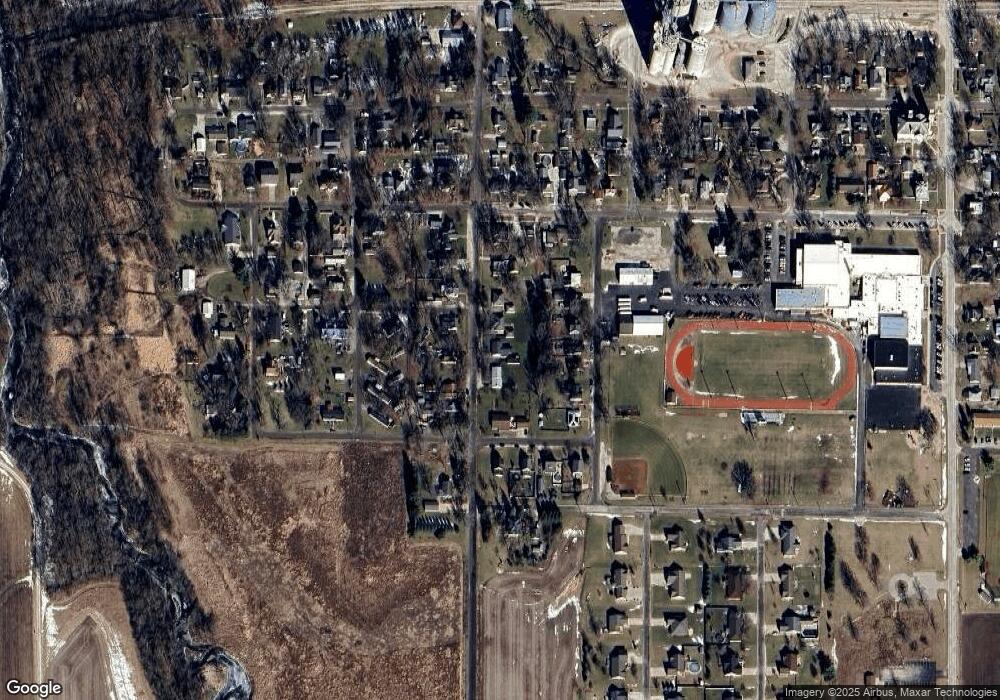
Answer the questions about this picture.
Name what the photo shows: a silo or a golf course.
silo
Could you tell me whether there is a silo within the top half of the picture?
Yes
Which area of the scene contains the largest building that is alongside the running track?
right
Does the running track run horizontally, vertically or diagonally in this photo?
horizontally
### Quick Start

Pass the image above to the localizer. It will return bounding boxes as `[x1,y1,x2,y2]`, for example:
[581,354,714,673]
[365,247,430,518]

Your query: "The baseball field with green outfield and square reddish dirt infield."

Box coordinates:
[611,422,686,496]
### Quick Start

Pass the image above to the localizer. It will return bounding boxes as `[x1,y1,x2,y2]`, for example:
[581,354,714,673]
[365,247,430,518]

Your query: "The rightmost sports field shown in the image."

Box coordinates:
[703,331,849,400]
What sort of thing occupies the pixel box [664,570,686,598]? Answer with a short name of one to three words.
house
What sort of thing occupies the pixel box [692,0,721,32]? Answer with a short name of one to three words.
silo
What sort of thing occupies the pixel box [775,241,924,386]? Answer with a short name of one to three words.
building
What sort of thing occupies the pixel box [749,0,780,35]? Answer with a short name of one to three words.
silo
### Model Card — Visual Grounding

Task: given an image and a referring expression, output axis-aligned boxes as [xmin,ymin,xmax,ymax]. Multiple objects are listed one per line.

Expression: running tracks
[666,320,858,410]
